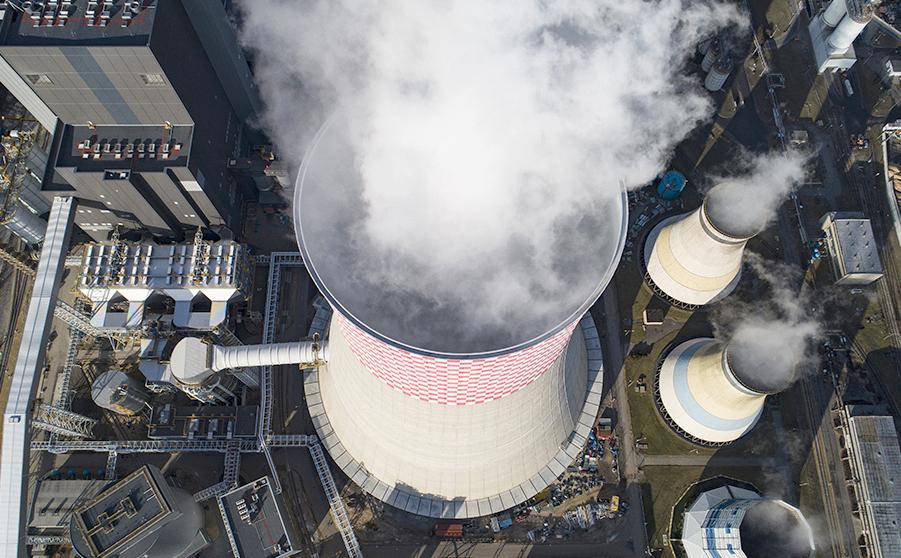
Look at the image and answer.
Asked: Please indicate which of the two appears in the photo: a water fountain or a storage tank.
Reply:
storage tank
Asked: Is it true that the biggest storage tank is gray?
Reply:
Yes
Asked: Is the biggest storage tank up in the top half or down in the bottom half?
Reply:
bottom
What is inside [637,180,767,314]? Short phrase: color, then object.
white cooling tower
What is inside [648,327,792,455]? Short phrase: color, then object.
white cooling tower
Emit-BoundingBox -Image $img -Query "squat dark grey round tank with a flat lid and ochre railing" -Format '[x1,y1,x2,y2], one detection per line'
[93,367,159,424]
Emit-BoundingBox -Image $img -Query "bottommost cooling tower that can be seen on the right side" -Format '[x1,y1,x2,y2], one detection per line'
[667,477,818,558]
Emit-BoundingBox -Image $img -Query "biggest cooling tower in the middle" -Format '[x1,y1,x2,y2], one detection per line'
[293,62,629,522]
